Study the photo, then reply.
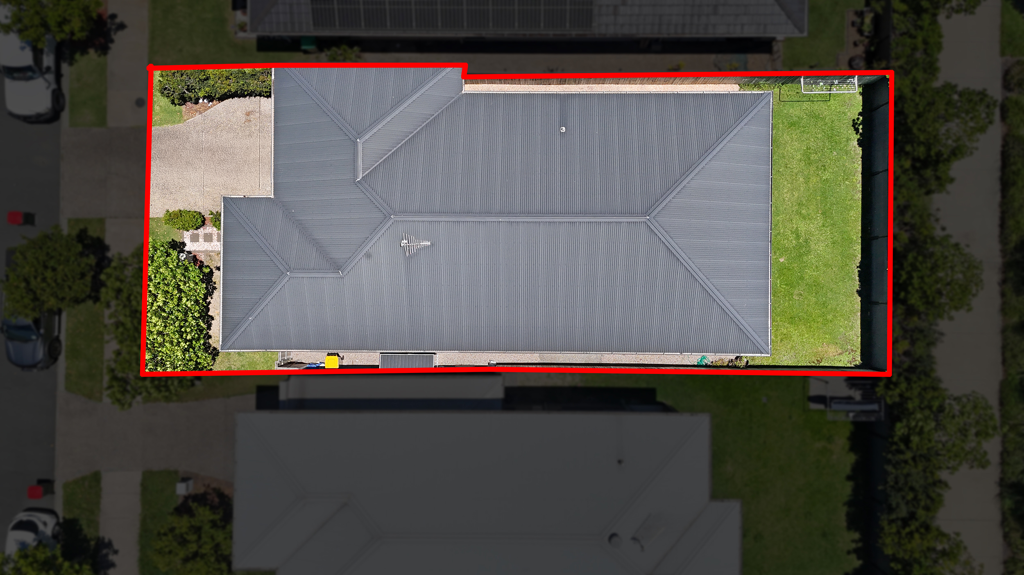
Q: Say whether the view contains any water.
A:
No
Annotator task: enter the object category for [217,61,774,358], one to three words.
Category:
house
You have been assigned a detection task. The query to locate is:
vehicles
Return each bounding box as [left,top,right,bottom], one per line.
[4,18,65,124]
[10,509,64,575]
[0,265,60,372]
